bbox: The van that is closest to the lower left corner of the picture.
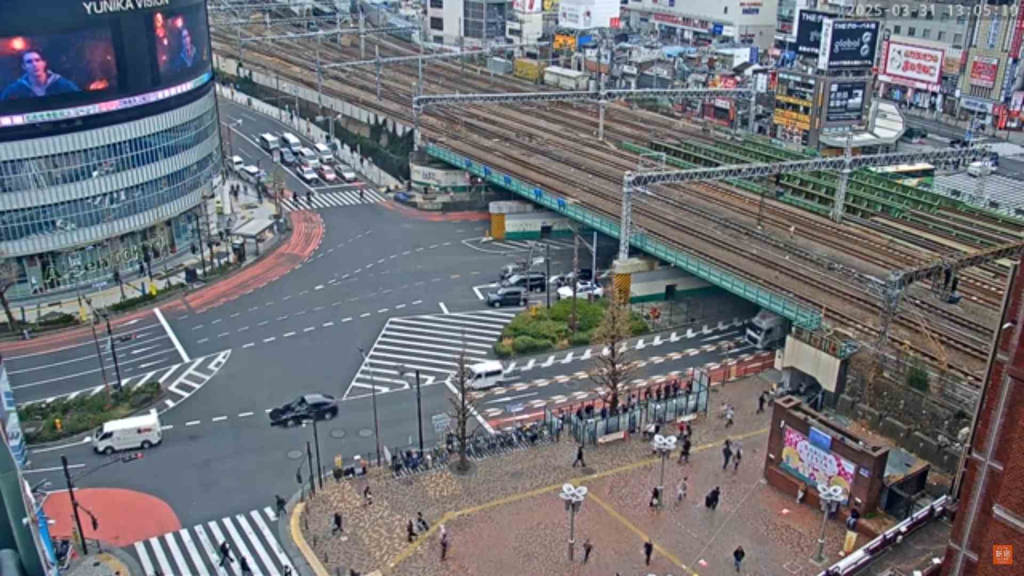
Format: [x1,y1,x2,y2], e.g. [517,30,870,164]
[90,411,164,453]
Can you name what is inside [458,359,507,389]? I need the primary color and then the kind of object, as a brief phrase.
white van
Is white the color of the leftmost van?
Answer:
Yes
